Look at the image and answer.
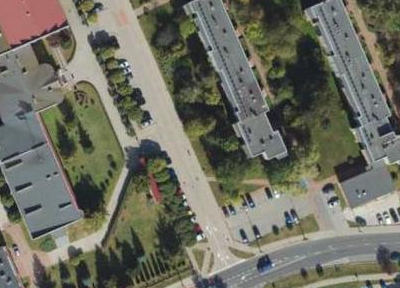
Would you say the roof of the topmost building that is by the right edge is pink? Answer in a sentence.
No, from above the roof of the topmost building that is by the right edge looks gray.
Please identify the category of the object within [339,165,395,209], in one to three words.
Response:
building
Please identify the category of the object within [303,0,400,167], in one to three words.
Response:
building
